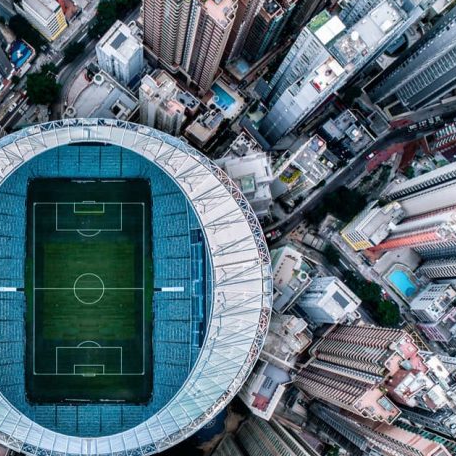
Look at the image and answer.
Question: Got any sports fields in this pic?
Yes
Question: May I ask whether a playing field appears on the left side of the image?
Yes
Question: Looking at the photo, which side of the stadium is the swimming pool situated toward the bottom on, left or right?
to its right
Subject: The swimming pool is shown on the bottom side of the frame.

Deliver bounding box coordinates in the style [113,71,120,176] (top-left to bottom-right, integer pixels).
[386,267,416,299]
